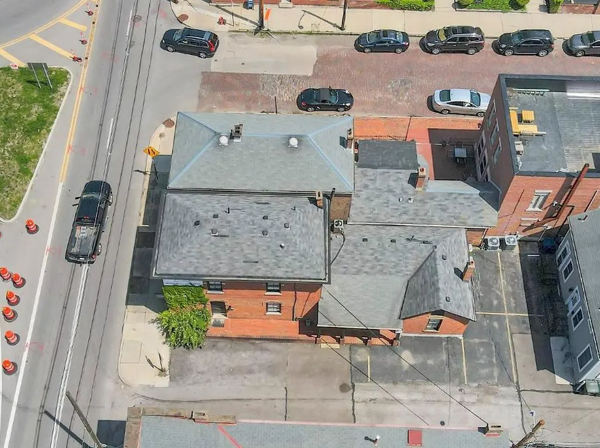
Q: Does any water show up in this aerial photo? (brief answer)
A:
No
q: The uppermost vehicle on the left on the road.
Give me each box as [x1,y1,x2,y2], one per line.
[159,26,221,59]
